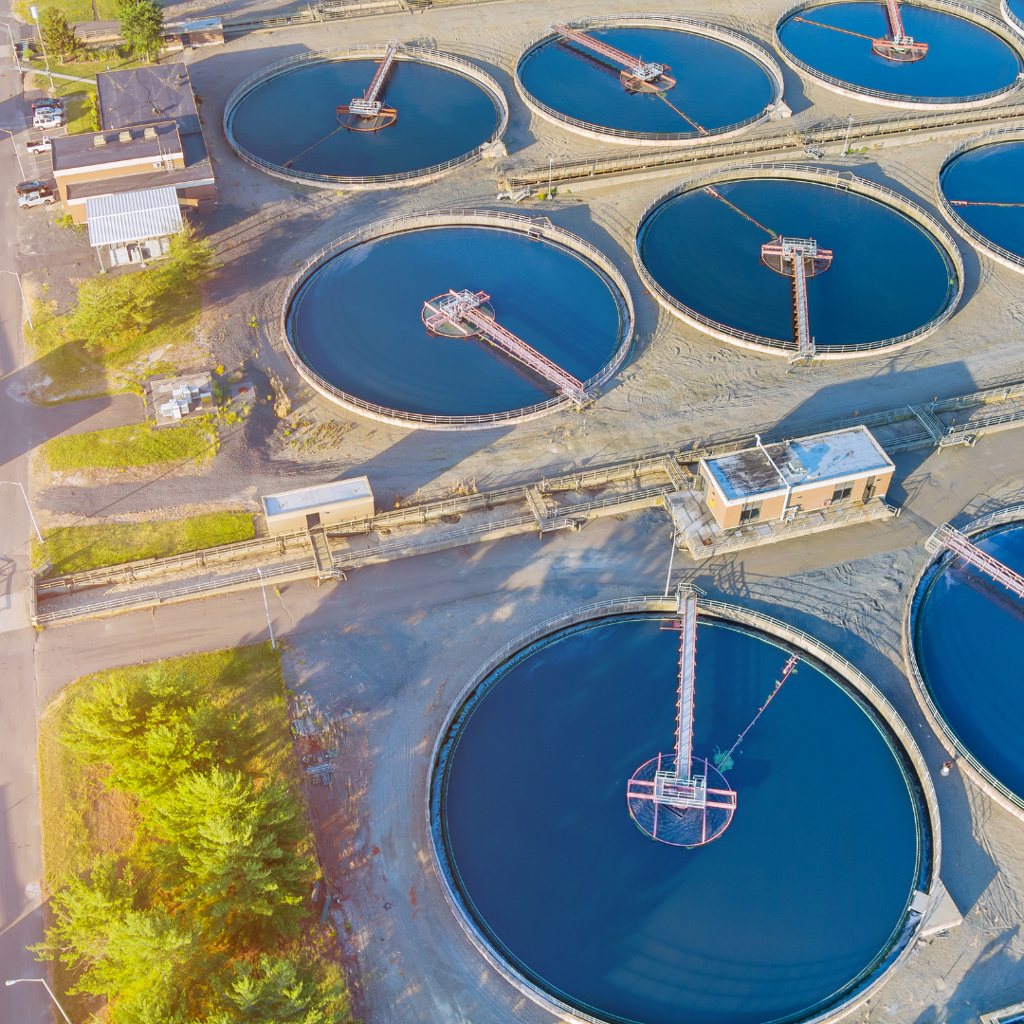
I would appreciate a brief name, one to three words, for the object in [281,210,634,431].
storage tank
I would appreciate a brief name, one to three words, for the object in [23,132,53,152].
vehicle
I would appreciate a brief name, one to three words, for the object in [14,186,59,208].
truck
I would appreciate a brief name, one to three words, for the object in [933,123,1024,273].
storage tank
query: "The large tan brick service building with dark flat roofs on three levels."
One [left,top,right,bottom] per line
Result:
[51,63,223,225]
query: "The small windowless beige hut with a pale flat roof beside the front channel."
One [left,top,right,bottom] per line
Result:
[260,472,375,529]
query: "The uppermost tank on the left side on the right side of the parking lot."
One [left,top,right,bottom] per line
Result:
[221,35,508,190]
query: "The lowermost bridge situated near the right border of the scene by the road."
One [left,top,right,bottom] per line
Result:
[912,524,1024,601]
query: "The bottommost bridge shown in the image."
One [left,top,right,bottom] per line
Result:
[669,578,713,776]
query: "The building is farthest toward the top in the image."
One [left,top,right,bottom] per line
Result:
[154,16,225,51]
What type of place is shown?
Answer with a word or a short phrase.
industrial area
